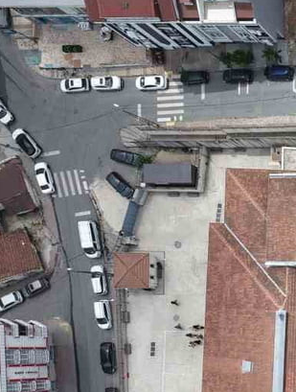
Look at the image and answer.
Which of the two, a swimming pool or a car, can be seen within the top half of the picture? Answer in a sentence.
You can see a car within the top half of the picture.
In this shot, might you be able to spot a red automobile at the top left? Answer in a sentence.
No, there is no red automobile at the top left.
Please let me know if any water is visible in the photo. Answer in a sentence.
No, water can't be seen anywhere here.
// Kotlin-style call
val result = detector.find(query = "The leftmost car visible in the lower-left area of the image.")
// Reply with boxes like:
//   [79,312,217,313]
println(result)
[0,289,28,313]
